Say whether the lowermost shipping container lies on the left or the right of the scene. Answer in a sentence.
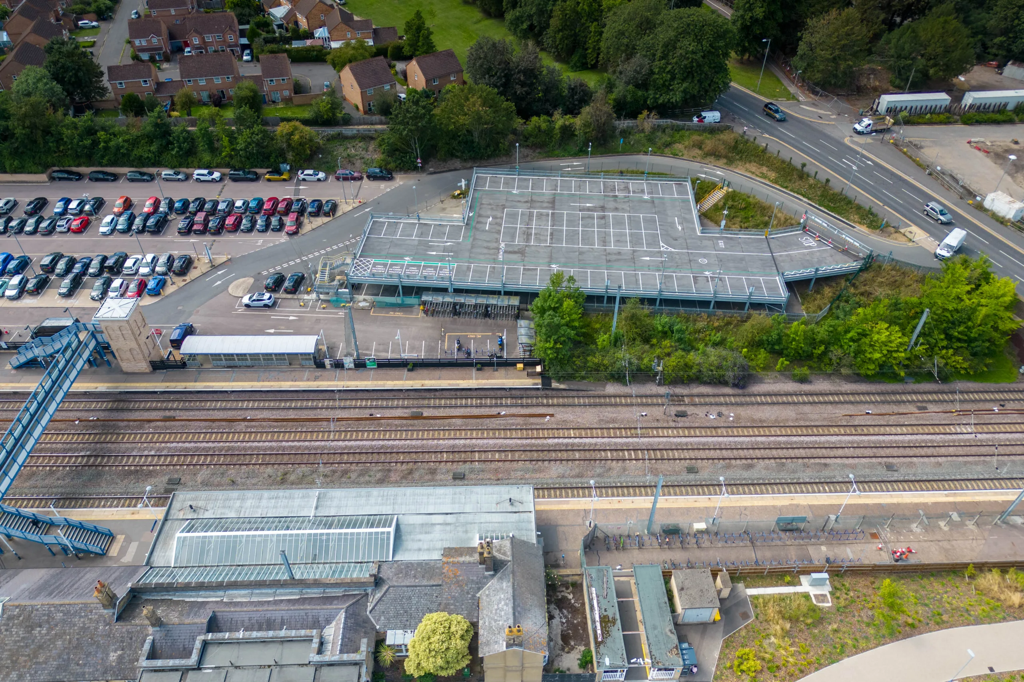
The lowermost shipping container is on the right side of the image.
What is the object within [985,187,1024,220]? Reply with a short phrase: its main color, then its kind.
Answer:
white shipping container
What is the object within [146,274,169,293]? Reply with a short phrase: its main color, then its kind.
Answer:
blue car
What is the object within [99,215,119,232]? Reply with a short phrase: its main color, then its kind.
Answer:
white car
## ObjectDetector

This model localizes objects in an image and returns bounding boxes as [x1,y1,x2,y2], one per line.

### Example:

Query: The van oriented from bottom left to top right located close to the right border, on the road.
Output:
[940,222,975,256]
